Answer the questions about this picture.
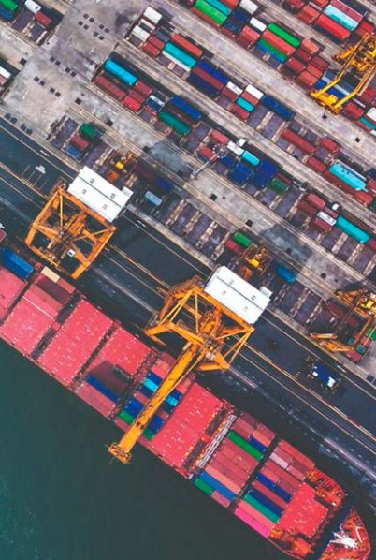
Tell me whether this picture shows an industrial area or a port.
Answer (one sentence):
What you see here is a port.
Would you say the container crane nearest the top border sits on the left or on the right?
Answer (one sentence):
The container crane nearest the top border sits on the right side.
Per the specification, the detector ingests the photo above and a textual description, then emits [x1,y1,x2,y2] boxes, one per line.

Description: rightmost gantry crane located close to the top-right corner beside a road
[308,35,376,117]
